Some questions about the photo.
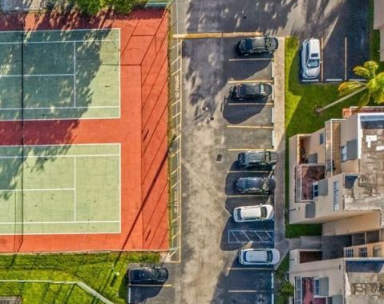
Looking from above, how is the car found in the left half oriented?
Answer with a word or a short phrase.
horizontally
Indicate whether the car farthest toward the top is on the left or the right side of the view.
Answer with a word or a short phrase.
right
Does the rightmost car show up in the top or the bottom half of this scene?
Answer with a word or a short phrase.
top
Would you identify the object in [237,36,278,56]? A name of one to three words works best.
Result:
car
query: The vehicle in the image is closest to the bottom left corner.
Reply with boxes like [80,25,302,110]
[126,265,169,285]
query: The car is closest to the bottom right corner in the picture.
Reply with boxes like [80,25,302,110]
[237,247,281,266]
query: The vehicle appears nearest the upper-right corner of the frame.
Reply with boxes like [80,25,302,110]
[300,39,322,81]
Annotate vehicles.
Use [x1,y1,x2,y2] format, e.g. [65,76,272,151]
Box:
[300,39,322,81]
[237,36,278,56]
[236,148,280,169]
[237,247,281,266]
[232,204,275,223]
[126,265,169,285]
[233,176,275,194]
[231,82,272,101]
